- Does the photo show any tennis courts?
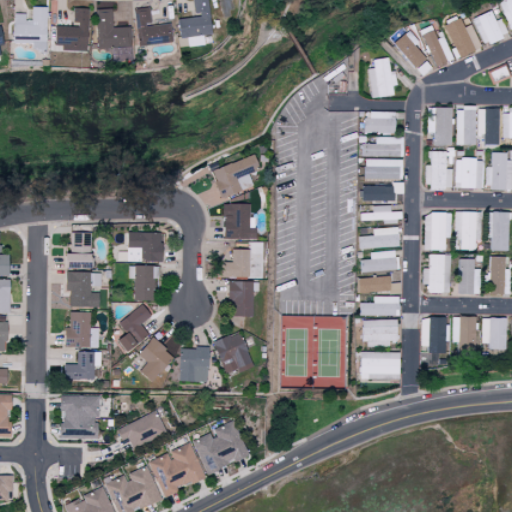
Yes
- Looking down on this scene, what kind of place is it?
residential area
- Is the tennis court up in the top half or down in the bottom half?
bottom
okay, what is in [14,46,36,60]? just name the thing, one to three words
swimming pool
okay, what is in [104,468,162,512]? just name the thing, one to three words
house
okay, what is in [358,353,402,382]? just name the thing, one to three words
house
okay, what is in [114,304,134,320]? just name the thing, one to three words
swimming pool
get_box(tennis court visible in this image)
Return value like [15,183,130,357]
[282,316,347,388]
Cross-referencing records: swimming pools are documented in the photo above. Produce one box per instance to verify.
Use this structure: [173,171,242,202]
[97,238,106,260]
[14,46,36,60]
[257,210,266,234]
[96,312,108,334]
[114,304,134,320]
[152,44,175,56]
[92,52,112,62]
